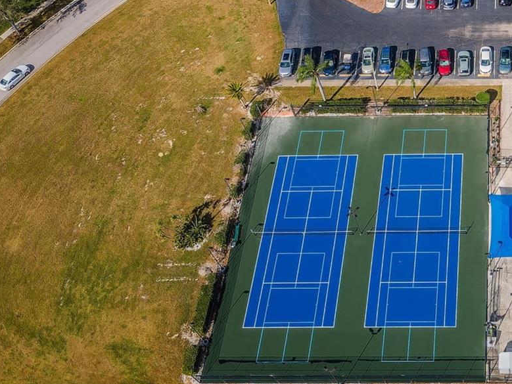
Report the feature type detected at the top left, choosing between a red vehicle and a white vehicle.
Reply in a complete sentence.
The one visible at the top left is a white vehicle.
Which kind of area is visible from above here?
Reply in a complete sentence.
This image shows a sports ground.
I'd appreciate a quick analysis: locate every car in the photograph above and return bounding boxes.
[386,0,400,9]
[478,47,493,74]
[278,48,296,76]
[360,47,376,75]
[0,65,33,91]
[323,50,339,77]
[460,0,472,9]
[457,50,471,77]
[405,0,419,10]
[443,0,456,9]
[425,0,437,9]
[419,45,433,75]
[298,43,316,73]
[437,49,451,76]
[500,0,511,6]
[499,46,512,73]
[378,46,394,74]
